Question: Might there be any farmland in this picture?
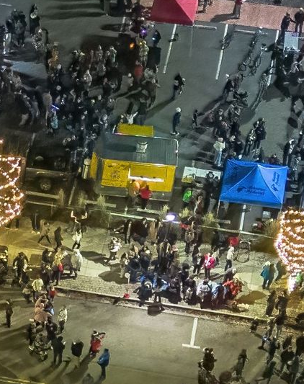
No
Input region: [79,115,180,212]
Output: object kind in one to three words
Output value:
trailer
